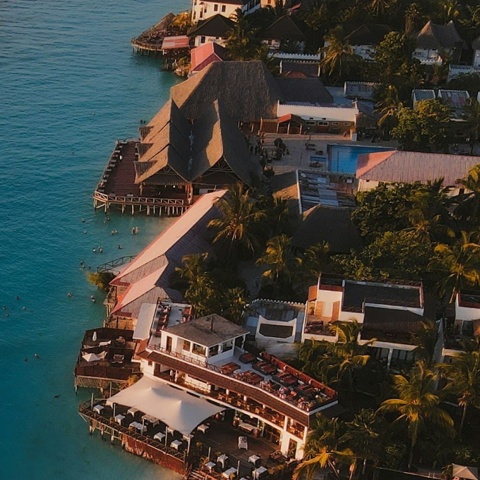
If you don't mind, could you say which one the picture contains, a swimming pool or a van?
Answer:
swimming pool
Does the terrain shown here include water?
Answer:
Yes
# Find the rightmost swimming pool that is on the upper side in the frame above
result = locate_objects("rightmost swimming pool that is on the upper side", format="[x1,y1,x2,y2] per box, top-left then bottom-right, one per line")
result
[327,144,399,175]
